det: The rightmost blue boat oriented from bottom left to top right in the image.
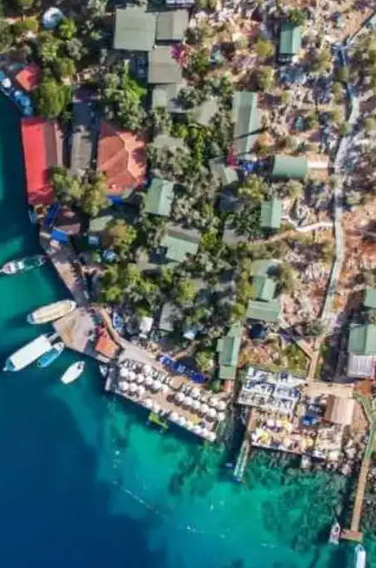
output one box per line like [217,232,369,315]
[37,344,63,370]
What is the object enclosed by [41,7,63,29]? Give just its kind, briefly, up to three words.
tent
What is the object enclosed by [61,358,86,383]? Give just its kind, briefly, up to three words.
boat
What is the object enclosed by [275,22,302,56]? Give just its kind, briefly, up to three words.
building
